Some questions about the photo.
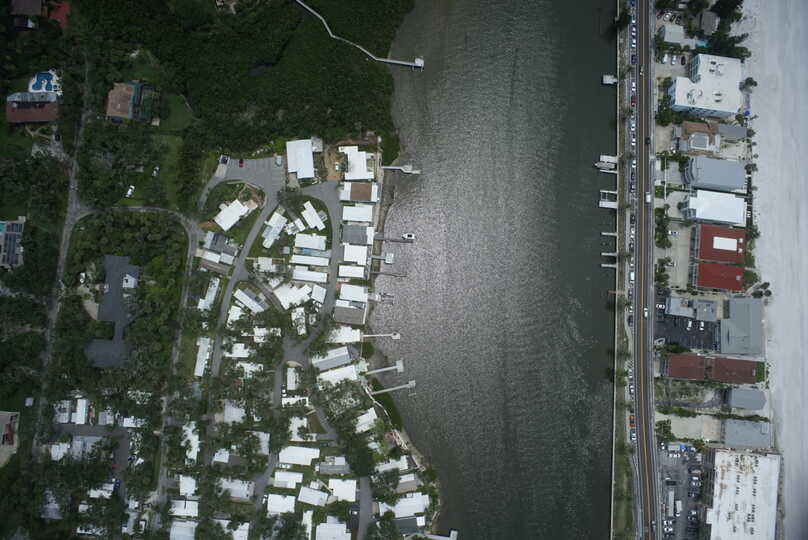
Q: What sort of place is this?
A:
residential area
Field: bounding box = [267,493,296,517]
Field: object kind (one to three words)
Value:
house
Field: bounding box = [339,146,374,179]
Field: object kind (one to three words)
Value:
house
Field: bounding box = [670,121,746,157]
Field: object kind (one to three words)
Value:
building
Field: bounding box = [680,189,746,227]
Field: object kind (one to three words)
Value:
building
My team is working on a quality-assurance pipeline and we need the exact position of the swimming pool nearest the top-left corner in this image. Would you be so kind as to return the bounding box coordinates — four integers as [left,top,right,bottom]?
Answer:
[28,71,62,94]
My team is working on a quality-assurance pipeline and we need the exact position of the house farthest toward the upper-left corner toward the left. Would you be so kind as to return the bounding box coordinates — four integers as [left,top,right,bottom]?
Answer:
[12,0,51,29]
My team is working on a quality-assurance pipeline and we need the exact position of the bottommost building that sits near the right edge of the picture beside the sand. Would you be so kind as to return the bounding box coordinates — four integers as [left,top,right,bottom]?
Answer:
[694,444,780,540]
